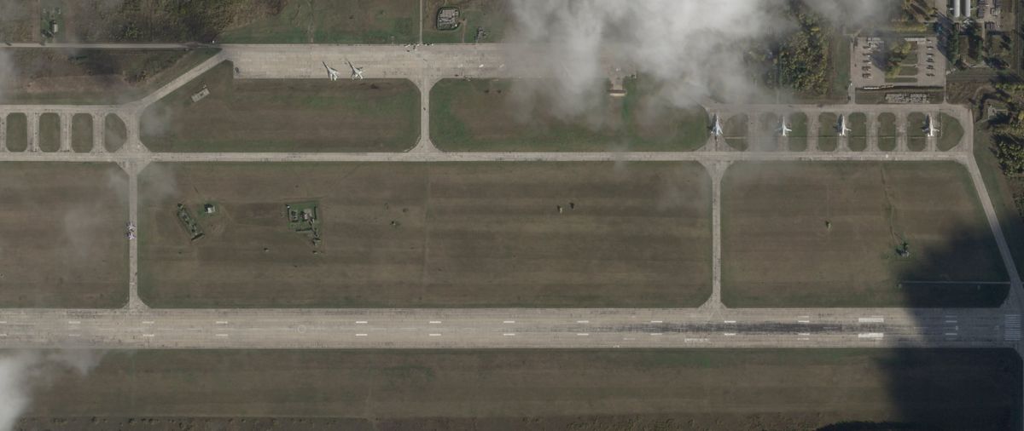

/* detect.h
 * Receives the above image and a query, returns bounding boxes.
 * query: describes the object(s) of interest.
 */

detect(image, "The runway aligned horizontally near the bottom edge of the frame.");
[0,297,1024,431]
